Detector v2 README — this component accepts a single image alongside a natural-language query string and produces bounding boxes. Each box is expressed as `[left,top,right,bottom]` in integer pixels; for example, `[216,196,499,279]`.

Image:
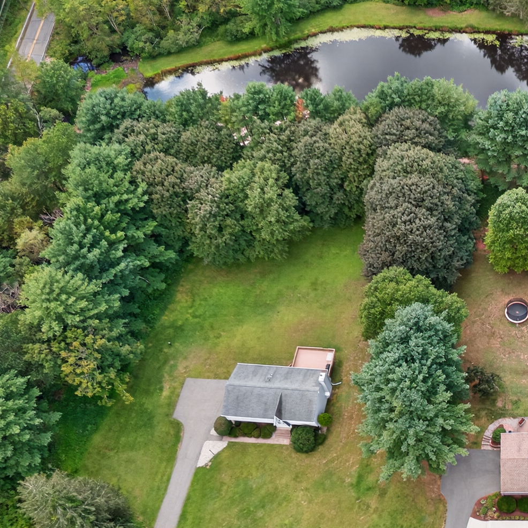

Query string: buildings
[222,364,334,431]
[500,434,528,498]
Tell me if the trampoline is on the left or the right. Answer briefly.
right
